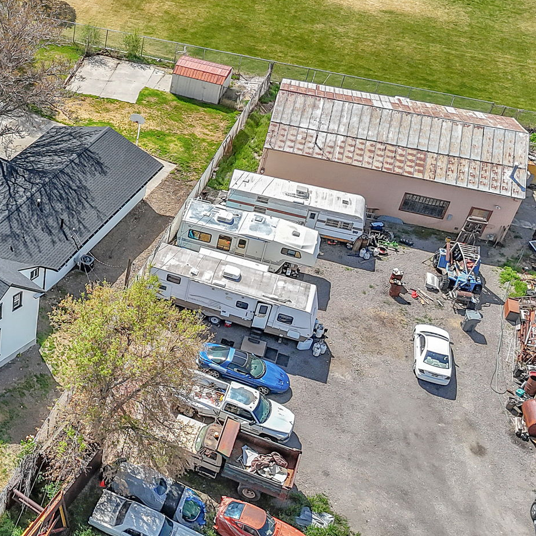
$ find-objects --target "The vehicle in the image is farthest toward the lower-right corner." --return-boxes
[411,321,459,390]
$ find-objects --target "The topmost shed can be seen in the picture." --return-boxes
[170,54,233,104]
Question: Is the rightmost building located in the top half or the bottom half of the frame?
top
